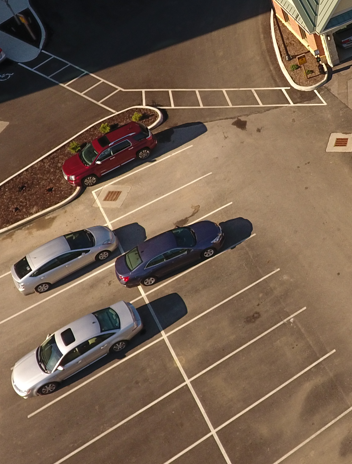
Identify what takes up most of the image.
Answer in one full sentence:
The scene is dominated by paved ground.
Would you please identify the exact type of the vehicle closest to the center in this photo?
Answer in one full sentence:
The vehicle closest to the center in the image is an automobile.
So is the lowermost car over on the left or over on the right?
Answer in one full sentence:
You can find the lowermost car on the left side of the picture.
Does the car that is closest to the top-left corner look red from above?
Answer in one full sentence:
Yes, the car that is closest to the top-left corner appears red.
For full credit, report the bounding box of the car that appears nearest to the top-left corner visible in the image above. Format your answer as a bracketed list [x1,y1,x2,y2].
[56,118,158,188]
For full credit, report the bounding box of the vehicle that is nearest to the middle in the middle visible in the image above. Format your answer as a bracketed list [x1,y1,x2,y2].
[113,218,225,289]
